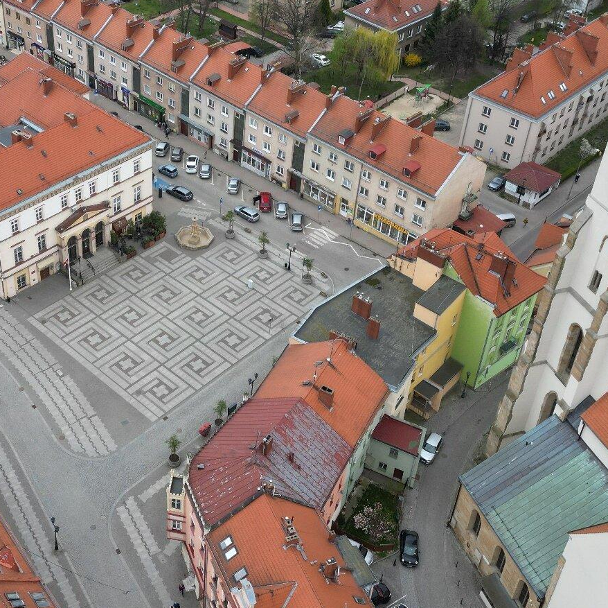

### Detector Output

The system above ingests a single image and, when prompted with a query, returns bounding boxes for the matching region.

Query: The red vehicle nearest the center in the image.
[260,195,272,211]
